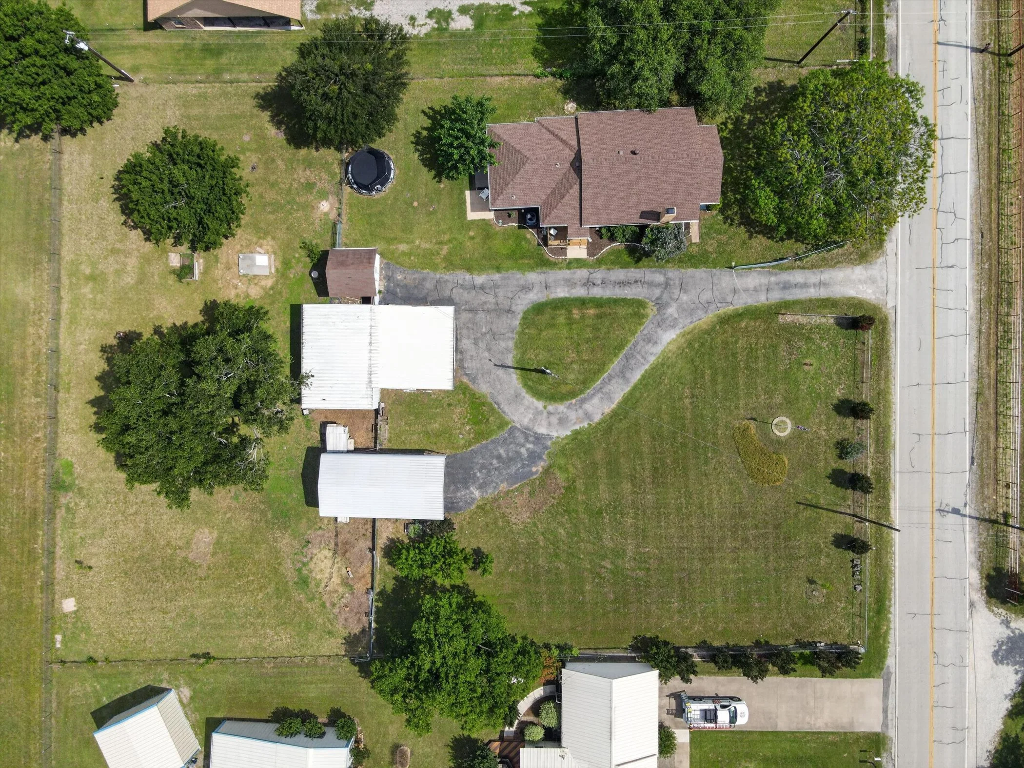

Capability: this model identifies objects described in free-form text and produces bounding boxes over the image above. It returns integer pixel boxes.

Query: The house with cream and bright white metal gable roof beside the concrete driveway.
[488,662,659,768]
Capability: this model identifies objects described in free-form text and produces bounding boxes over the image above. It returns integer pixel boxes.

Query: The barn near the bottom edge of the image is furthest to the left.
[93,678,212,768]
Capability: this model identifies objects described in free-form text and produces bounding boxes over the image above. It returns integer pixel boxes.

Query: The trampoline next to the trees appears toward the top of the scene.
[344,141,394,196]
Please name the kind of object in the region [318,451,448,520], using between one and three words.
building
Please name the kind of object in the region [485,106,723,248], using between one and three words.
house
